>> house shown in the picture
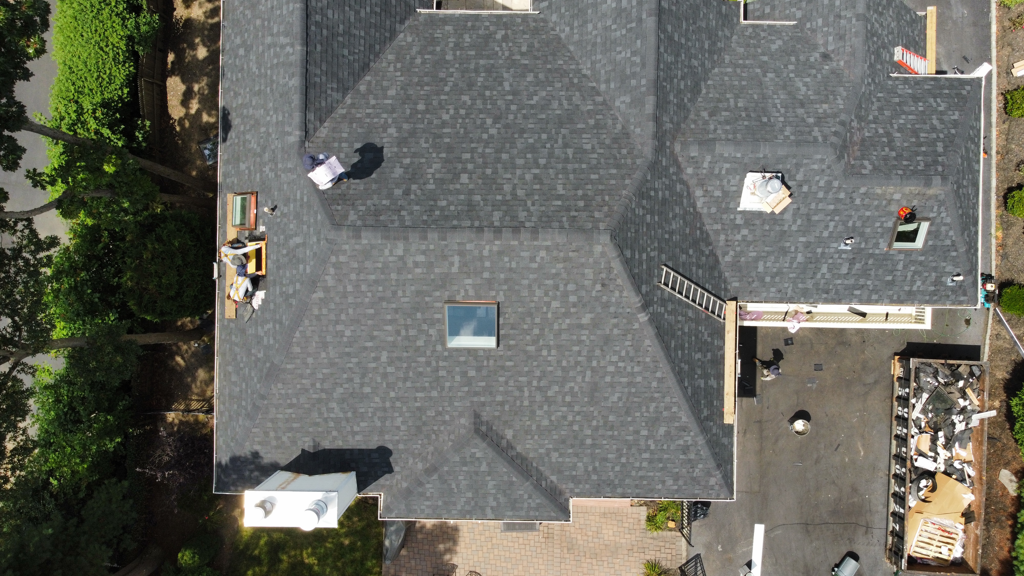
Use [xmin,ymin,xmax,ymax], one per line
[214,0,996,531]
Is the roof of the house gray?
Yes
